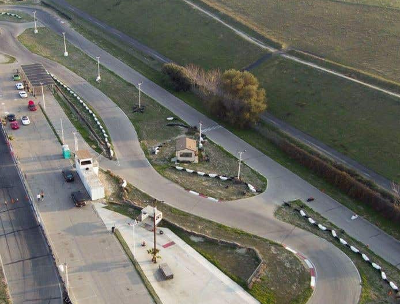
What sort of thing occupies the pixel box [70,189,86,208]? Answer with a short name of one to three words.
car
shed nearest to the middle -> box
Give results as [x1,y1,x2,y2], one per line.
[173,138,199,164]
